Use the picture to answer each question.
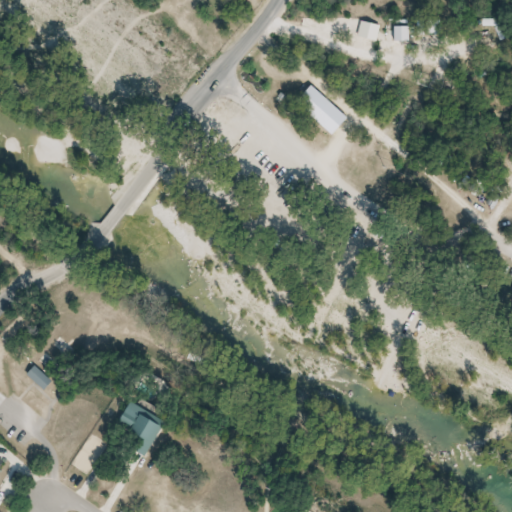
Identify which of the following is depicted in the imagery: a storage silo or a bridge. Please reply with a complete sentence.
Looking from above, you can make out a bridge.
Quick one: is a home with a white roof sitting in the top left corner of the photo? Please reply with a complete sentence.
No, I see no home with a white roof in the top left corner of the photo.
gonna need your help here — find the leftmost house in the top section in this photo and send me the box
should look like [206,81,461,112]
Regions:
[304,86,347,134]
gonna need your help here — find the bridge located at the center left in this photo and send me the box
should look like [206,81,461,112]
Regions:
[88,176,162,247]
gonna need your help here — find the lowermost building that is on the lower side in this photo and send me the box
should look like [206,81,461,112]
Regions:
[122,400,163,455]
